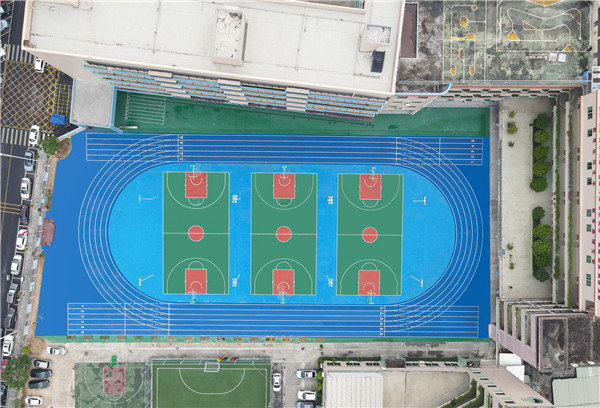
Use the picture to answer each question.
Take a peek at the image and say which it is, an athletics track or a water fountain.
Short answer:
athletics track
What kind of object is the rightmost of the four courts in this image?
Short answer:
basketball court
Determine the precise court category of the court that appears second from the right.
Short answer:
basketball court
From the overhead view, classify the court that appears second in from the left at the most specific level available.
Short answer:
basketball court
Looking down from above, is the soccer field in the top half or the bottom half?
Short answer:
bottom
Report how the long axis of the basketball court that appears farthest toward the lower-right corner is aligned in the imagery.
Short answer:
vertically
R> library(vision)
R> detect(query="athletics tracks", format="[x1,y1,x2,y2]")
[34,129,490,338]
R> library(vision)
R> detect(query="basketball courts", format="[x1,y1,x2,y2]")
[250,165,318,301]
[336,167,404,303]
[162,164,230,301]
[74,362,146,408]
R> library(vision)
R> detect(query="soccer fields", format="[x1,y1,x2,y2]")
[151,359,270,408]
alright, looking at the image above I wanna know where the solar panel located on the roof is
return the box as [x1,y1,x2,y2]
[370,50,385,73]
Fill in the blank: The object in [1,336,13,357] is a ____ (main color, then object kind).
white vehicle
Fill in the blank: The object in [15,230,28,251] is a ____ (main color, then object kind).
white vehicle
